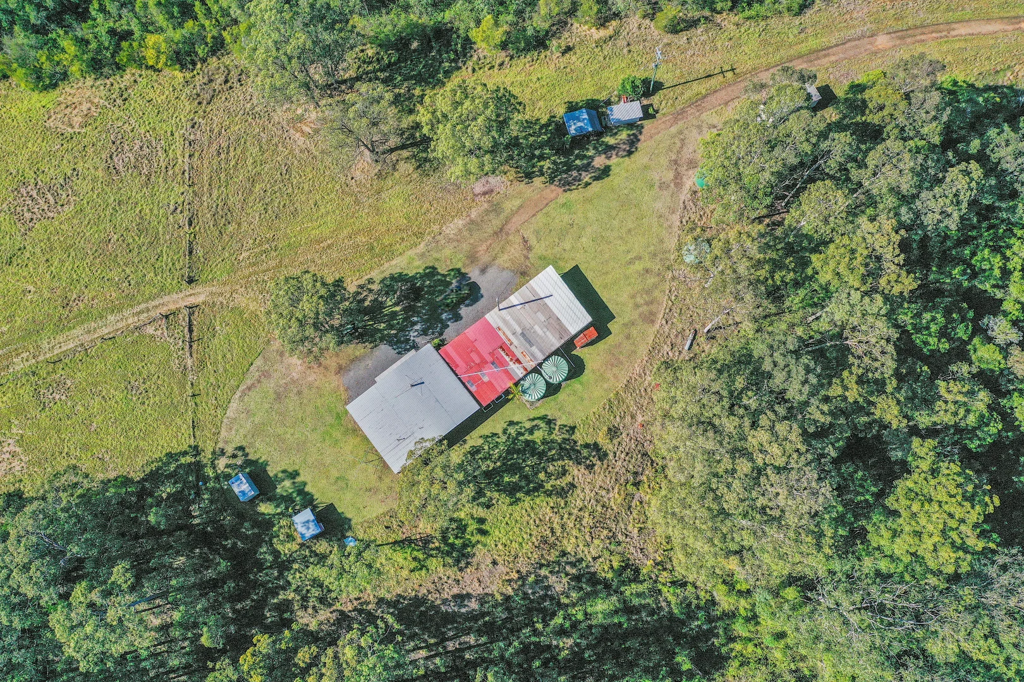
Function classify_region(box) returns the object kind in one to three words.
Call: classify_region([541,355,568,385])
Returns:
water tank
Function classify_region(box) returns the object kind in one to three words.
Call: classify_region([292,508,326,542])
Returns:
shed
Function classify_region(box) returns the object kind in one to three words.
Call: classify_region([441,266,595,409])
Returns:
house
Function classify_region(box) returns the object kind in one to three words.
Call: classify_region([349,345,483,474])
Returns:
shed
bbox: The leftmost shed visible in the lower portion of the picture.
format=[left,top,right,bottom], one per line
[229,473,258,503]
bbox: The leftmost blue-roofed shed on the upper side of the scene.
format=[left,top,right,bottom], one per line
[566,109,601,141]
